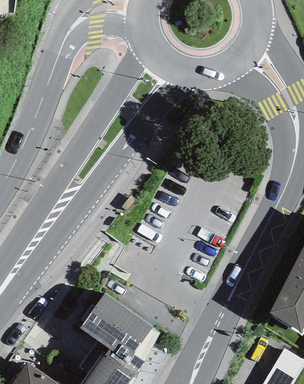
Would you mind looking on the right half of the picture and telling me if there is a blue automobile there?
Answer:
Yes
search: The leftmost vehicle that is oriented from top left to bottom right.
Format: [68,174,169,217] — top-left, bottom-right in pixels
[106,280,127,296]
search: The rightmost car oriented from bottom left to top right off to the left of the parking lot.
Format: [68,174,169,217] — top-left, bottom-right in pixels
[28,296,46,320]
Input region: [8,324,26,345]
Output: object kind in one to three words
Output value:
car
